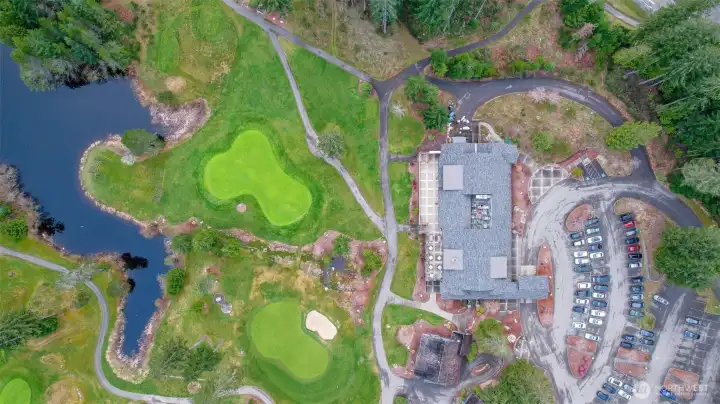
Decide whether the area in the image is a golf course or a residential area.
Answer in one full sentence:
It's a golf course.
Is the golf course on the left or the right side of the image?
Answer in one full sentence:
It is on the left.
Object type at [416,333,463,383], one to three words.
barn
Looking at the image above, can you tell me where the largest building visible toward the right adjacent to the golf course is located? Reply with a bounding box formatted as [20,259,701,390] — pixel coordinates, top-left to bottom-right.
[428,137,550,299]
